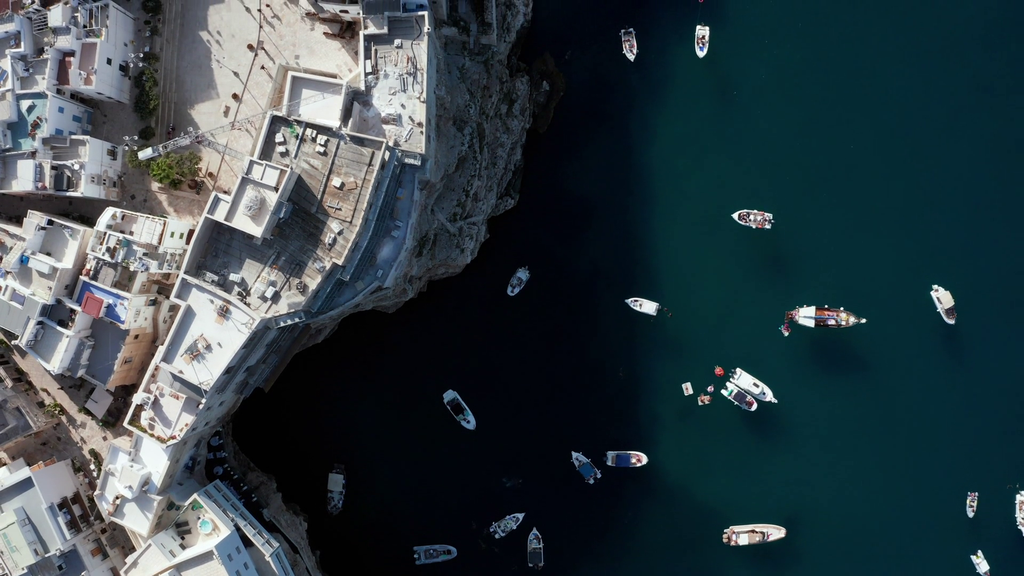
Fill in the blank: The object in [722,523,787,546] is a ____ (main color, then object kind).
white boat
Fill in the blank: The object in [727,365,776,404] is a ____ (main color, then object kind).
white boat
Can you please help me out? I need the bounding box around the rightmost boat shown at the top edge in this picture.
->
[694,21,711,59]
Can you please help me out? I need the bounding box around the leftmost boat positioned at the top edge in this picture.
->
[621,25,639,63]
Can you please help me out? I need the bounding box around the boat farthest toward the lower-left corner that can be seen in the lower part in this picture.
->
[326,463,348,516]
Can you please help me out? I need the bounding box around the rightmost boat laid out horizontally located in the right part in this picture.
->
[783,303,868,329]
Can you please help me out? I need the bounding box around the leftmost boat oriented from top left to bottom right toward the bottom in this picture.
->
[441,388,476,430]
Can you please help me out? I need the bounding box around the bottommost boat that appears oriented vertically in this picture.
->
[527,527,544,571]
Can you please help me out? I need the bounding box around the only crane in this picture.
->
[134,66,393,163]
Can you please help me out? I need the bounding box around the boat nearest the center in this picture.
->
[509,264,531,295]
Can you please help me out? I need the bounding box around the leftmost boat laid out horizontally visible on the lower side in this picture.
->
[412,544,458,564]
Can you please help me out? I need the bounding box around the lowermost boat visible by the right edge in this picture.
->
[966,547,994,576]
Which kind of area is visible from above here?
residential area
